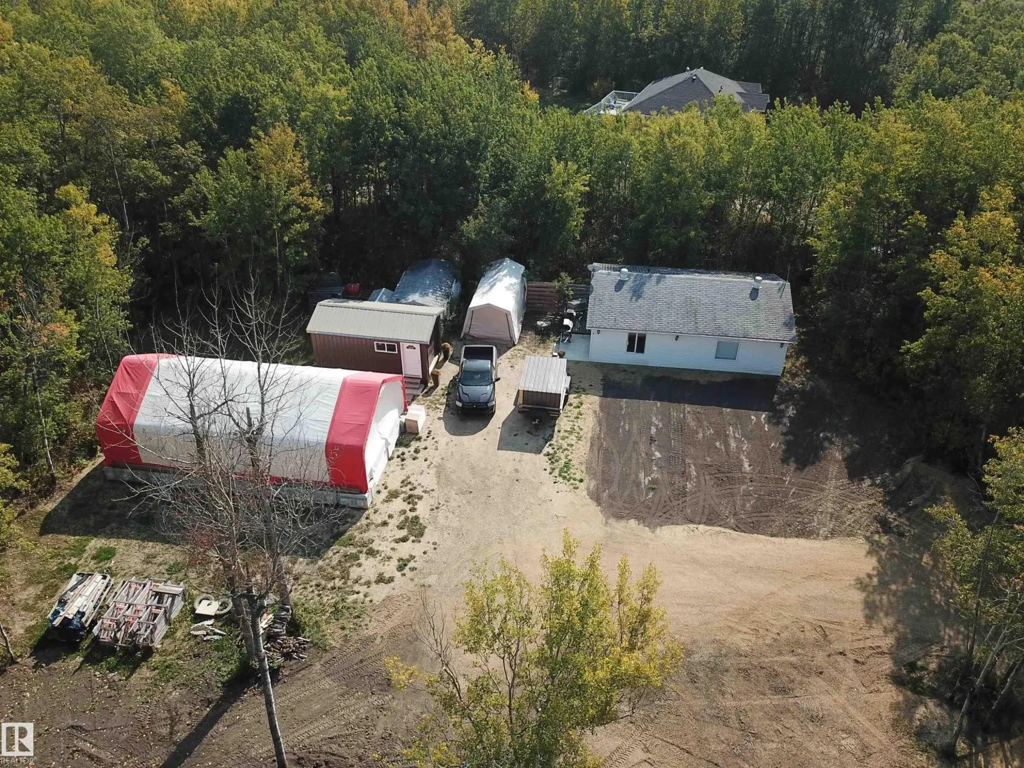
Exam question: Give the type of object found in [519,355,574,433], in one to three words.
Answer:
trailer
